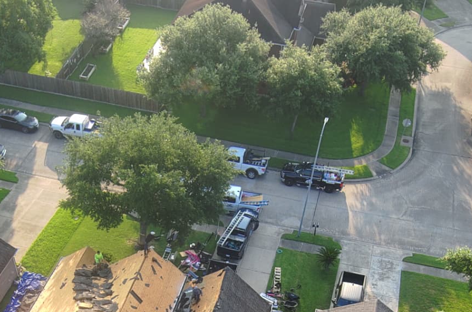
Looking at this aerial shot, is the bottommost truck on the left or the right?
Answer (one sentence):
The bottommost truck appears in the right half of the scene.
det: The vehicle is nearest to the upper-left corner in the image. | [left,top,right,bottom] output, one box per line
[0,111,39,136]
